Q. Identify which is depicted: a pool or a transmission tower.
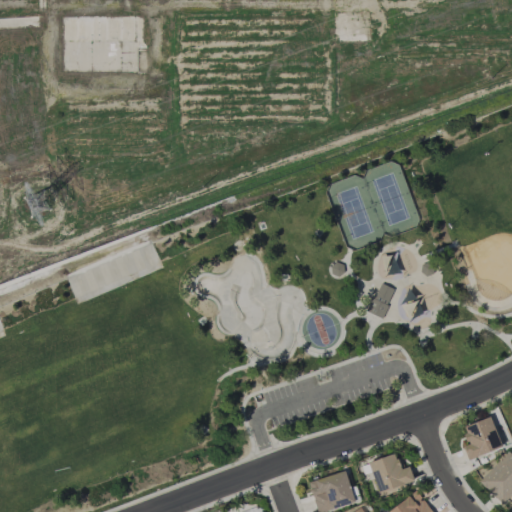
transmission tower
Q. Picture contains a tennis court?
Yes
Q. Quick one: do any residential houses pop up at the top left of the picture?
No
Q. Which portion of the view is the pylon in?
left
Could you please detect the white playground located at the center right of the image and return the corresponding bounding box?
[376,245,444,327]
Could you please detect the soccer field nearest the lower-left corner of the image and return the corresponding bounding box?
[0,250,242,512]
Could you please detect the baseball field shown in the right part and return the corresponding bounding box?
[431,118,512,301]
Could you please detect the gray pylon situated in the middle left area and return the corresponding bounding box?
[24,181,52,226]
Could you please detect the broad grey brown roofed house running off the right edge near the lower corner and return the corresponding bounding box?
[482,454,512,504]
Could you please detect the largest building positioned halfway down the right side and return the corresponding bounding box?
[370,281,398,319]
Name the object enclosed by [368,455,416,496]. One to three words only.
house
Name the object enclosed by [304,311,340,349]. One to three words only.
sports court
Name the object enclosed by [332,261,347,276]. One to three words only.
gazebo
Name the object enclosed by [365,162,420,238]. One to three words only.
tennis court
